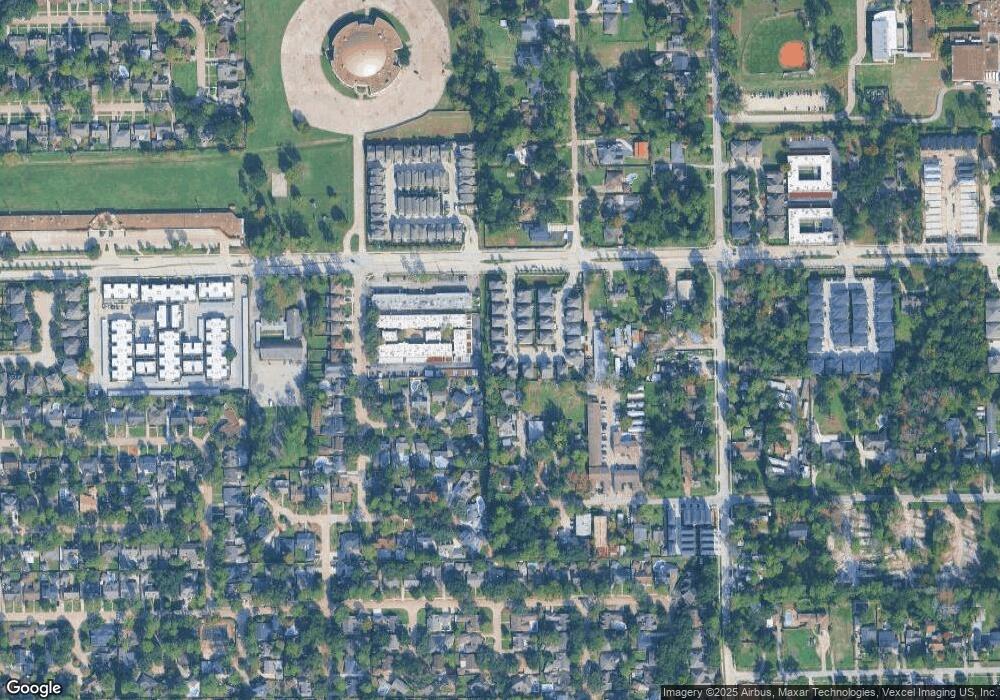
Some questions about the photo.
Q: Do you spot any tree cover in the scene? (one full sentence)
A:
Yes, tree cover can be seen from above here.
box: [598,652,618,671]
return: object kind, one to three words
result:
house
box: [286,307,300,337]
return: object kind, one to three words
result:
building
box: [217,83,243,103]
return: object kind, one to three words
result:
house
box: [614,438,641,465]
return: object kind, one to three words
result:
building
